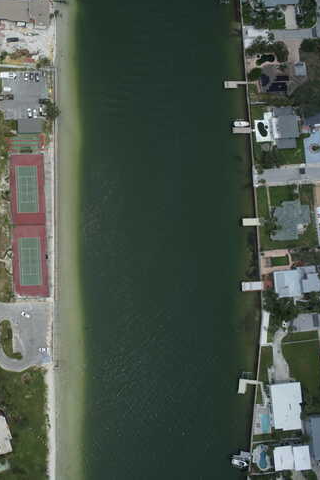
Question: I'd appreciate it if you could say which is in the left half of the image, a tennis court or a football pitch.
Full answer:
There is a tennis court in the left half of the image.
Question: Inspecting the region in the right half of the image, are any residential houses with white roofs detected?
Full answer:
Yes, looking in the right half of the image, one can make out a residential house with a white roof.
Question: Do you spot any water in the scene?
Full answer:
Yes, there is water in the image.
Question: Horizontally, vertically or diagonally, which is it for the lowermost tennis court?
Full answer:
Seen from above, the lowermost tennis court lies vertically.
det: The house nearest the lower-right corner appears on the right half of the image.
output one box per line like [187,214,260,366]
[292,445,311,471]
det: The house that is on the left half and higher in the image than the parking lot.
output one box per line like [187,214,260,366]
[0,0,50,30]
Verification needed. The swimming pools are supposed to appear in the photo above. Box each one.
[256,54,274,66]
[259,451,267,470]
[261,414,270,434]
[258,122,269,137]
